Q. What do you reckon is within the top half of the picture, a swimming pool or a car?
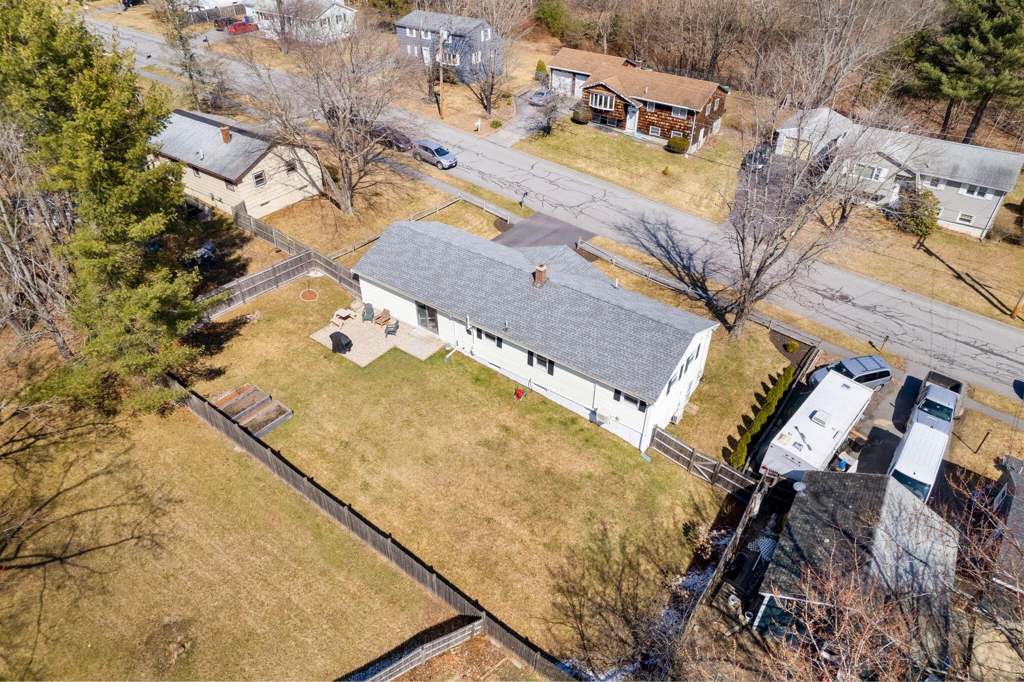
car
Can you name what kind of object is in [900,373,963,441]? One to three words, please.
truck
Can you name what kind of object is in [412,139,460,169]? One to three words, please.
car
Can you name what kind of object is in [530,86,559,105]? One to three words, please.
car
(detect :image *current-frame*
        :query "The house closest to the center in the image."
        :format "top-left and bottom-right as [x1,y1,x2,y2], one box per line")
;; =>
[349,221,721,450]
